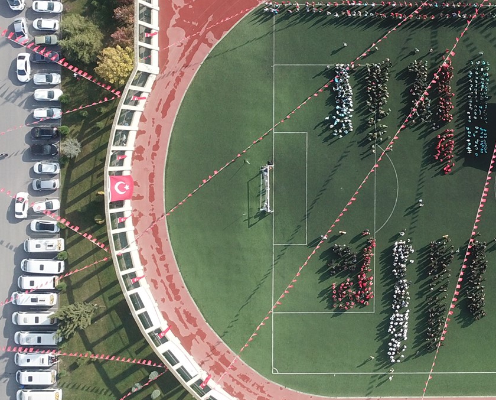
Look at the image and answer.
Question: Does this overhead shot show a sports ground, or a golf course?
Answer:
sports ground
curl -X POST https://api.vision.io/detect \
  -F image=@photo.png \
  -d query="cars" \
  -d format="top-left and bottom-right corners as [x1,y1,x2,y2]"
[33,177,61,192]
[31,219,62,234]
[33,33,60,47]
[34,162,61,175]
[33,198,62,212]
[33,106,63,120]
[33,89,63,102]
[33,18,60,31]
[13,18,32,44]
[16,192,30,218]
[31,143,60,156]
[34,72,62,85]
[17,53,32,82]
[32,126,61,140]
[31,49,62,63]
[32,0,64,14]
